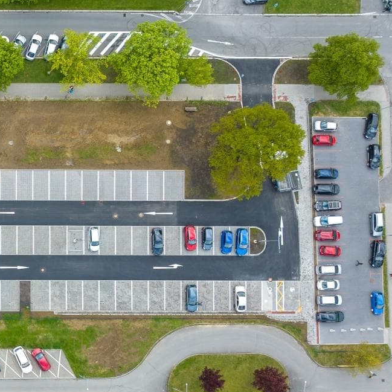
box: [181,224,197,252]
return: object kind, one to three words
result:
car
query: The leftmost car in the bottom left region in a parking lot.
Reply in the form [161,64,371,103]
[12,344,32,374]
